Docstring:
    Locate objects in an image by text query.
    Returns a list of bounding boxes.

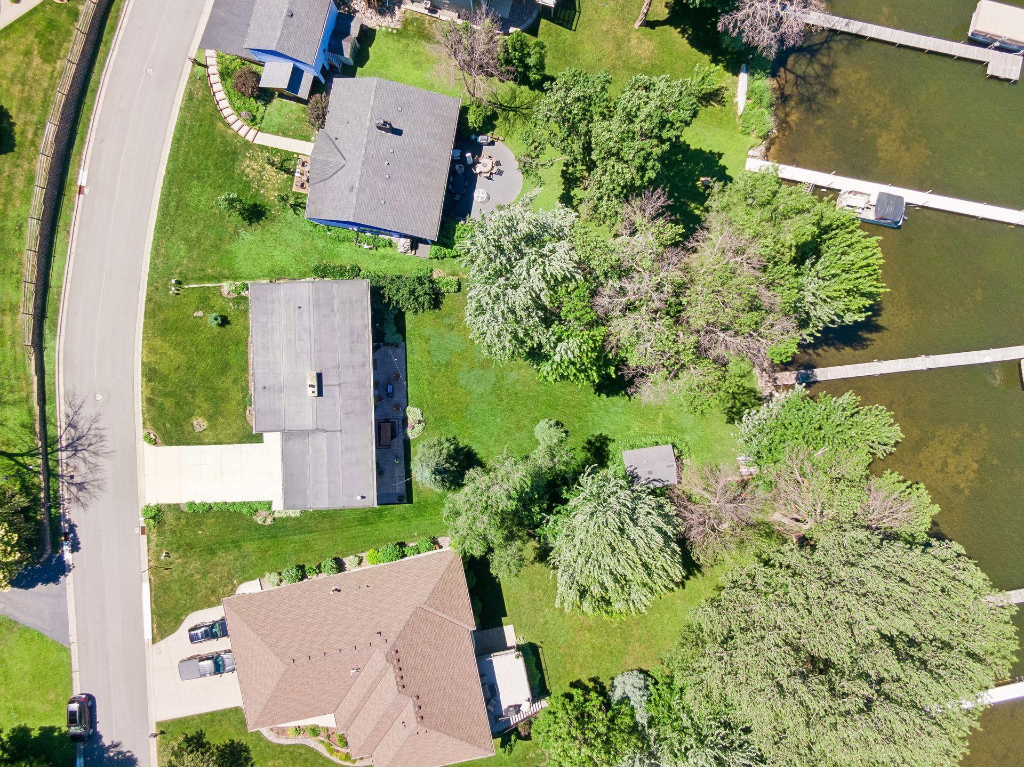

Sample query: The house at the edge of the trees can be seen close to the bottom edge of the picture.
[221,547,496,767]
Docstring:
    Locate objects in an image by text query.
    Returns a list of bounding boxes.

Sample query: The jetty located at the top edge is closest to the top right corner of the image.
[805,11,1024,83]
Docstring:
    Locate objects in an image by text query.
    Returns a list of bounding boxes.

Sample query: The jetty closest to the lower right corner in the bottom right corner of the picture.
[945,680,1024,713]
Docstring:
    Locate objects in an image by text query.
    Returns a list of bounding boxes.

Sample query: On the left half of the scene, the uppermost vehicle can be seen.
[189,620,229,646]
